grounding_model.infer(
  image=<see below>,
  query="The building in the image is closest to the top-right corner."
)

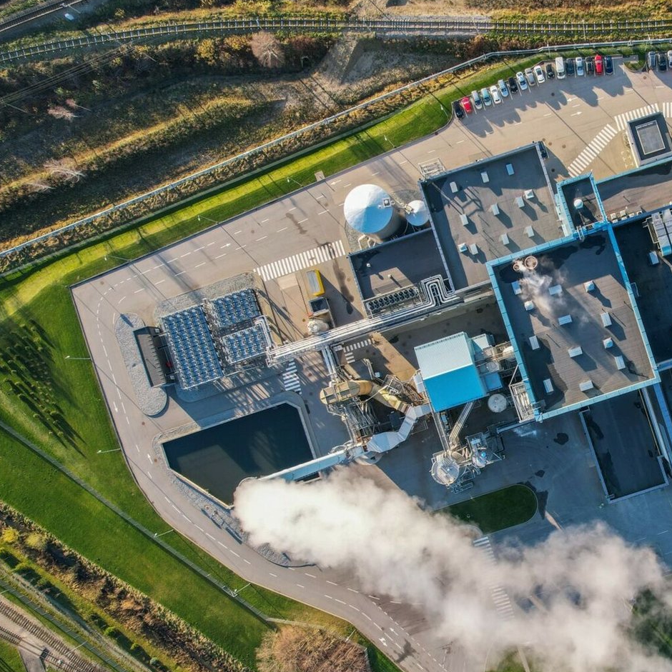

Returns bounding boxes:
[626,113,672,169]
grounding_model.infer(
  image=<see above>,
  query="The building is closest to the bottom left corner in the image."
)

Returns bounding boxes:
[133,326,174,387]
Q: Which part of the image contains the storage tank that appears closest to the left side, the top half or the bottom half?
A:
top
